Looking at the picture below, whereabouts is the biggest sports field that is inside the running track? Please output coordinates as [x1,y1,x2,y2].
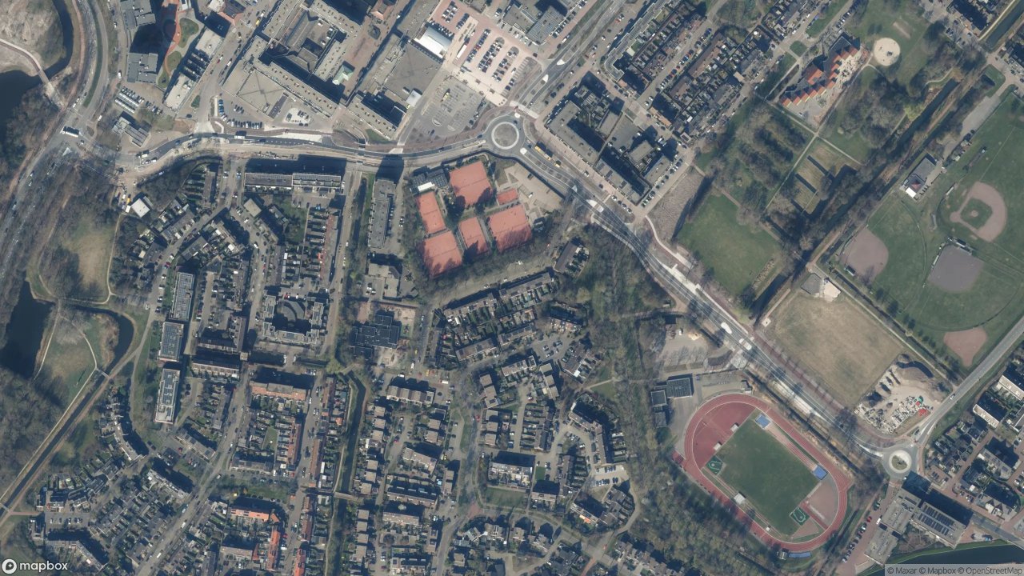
[720,421,826,533]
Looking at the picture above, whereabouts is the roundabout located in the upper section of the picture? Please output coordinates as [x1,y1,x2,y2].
[483,113,525,155]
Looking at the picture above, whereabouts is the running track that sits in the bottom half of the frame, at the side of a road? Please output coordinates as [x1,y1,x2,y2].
[679,388,850,556]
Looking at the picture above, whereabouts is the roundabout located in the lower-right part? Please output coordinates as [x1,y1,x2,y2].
[880,442,920,482]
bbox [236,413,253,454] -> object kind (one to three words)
house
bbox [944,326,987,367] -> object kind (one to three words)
baseball field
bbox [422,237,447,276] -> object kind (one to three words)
tennis court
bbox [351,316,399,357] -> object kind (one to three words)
building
